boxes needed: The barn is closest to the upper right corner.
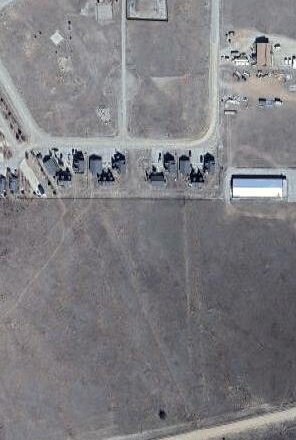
[257,42,274,66]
